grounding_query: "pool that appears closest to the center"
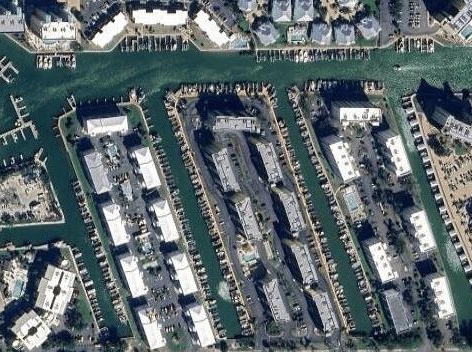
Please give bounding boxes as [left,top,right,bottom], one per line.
[239,252,260,265]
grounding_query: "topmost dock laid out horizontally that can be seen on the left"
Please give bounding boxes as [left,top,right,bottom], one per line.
[121,36,190,49]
